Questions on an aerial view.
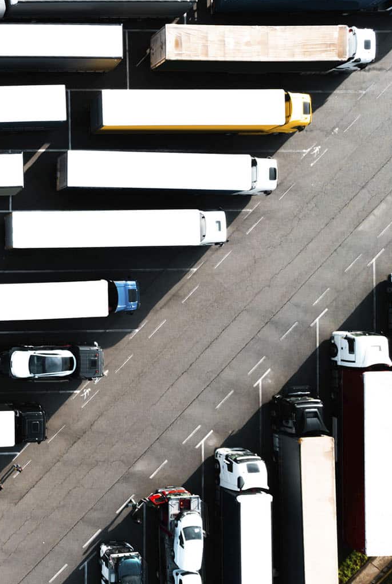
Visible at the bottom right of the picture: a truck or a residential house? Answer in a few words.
truck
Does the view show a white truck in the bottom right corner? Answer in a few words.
Yes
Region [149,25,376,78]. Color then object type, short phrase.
white truck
